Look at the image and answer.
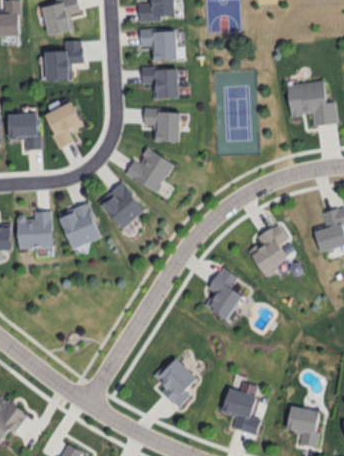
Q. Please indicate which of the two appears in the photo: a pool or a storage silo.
pool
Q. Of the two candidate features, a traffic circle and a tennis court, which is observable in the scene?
tennis court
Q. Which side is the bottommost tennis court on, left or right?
right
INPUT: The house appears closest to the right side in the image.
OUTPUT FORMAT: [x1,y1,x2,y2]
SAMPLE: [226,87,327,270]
[314,206,344,254]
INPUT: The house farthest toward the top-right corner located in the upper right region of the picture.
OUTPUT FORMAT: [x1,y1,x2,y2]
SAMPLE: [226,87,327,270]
[288,82,339,127]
